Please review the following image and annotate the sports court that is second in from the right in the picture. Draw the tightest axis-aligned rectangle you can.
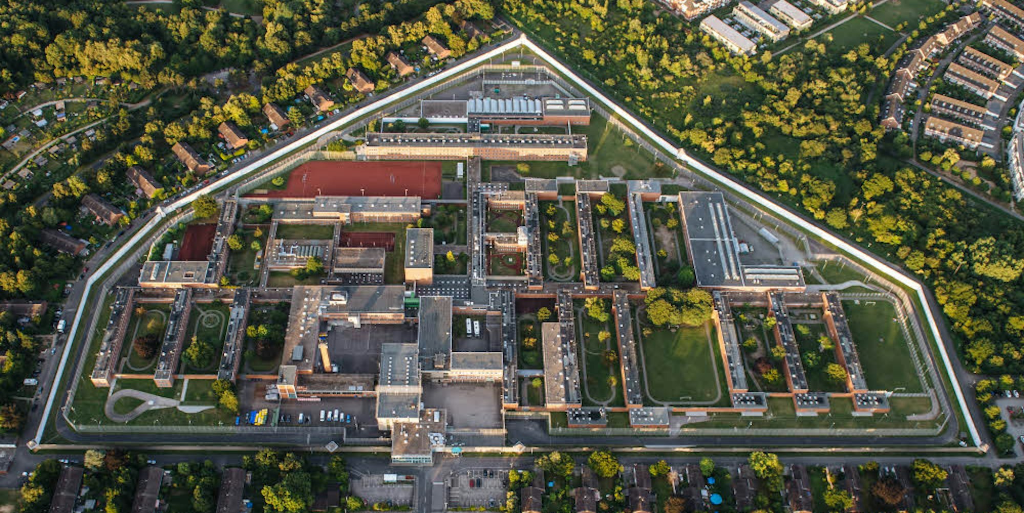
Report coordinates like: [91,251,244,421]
[340,232,395,250]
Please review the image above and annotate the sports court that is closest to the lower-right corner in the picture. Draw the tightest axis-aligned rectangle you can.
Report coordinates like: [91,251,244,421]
[517,298,556,313]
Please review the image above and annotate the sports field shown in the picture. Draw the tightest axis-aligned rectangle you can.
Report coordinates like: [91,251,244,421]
[243,161,441,198]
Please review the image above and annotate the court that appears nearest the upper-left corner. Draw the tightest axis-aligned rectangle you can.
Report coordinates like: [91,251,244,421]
[177,223,217,259]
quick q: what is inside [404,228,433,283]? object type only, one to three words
building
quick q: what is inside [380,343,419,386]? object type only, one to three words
building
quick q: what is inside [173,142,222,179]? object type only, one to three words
house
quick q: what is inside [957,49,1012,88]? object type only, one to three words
house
